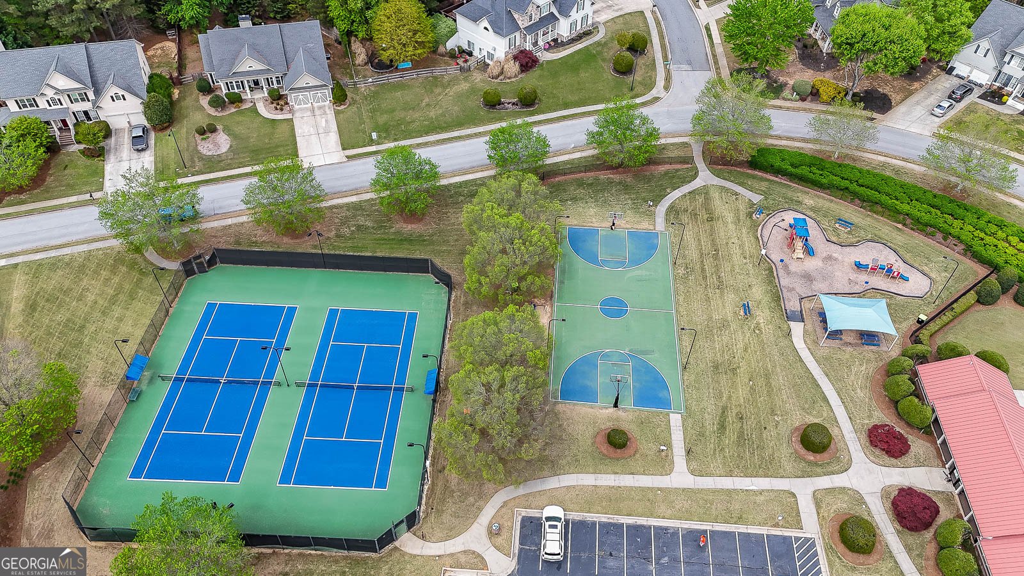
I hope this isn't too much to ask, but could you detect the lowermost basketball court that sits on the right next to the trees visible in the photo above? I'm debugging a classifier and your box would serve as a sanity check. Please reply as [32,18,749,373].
[548,225,688,414]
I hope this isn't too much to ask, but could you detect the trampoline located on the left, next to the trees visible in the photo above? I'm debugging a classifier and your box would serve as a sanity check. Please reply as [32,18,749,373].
[370,57,395,72]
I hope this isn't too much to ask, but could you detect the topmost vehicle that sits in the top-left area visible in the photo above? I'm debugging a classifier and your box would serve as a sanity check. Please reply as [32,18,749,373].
[130,127,148,152]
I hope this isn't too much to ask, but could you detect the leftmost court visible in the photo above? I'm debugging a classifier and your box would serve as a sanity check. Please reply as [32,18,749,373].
[77,266,324,533]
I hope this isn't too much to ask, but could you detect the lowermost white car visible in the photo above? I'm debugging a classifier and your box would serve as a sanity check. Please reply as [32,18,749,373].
[541,509,566,562]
